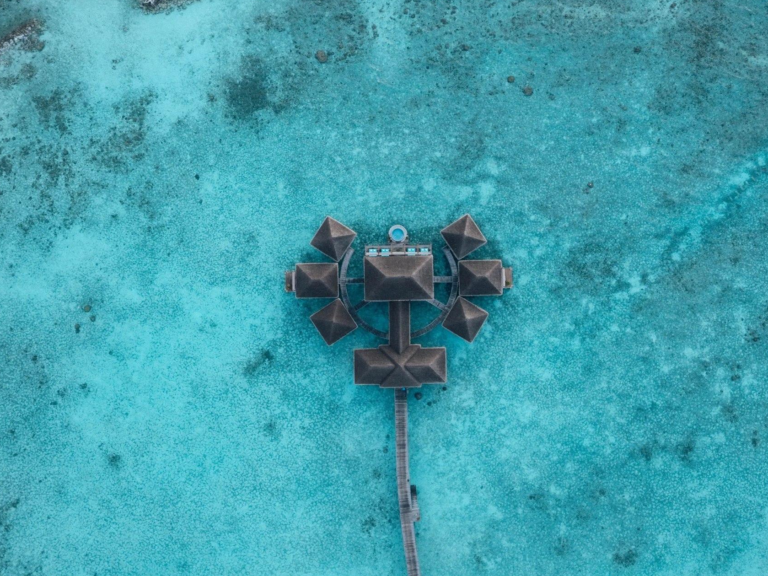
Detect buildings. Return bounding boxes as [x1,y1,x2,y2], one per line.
[443,296,487,341]
[441,215,486,257]
[283,263,339,297]
[458,260,514,295]
[364,238,433,301]
[354,344,446,387]
[311,299,356,344]
[311,217,355,261]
